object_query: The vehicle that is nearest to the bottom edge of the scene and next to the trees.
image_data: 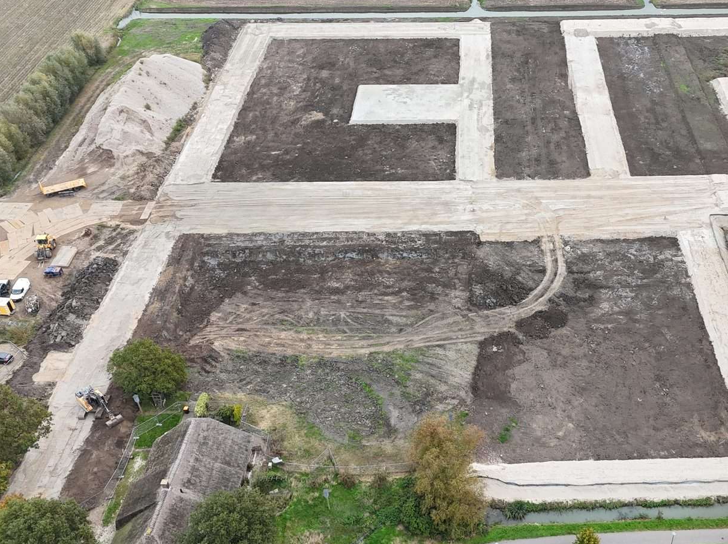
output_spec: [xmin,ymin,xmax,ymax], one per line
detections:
[69,383,128,436]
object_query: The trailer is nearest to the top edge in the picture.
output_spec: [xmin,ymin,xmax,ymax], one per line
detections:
[33,175,84,199]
